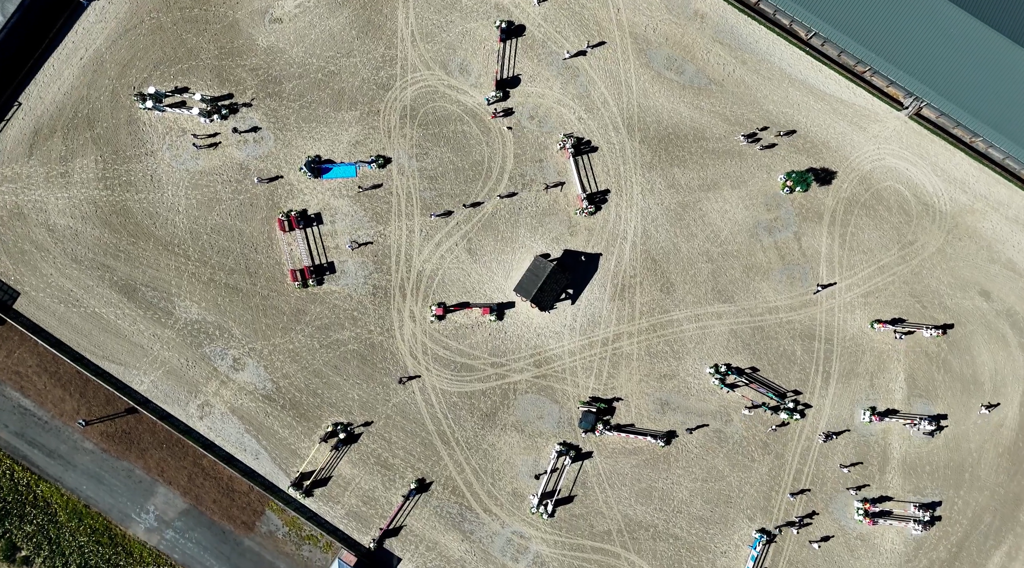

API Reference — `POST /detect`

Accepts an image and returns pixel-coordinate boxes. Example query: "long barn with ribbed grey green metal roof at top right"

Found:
[748,0,1024,175]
